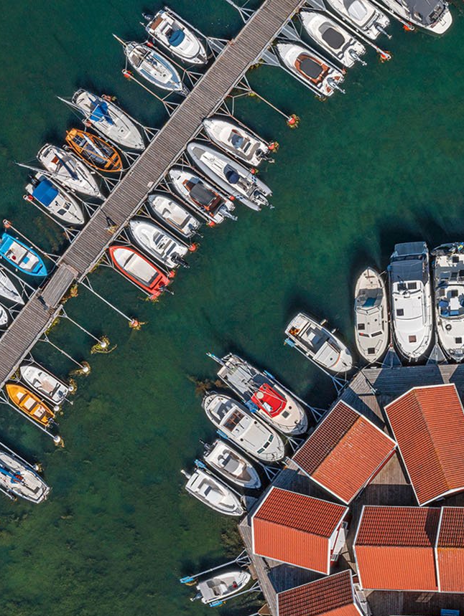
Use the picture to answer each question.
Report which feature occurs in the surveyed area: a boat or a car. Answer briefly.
boat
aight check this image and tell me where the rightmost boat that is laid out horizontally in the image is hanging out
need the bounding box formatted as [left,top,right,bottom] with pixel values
[436,231,464,243]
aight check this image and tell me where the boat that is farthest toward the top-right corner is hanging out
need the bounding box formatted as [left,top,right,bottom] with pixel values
[371,0,464,50]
